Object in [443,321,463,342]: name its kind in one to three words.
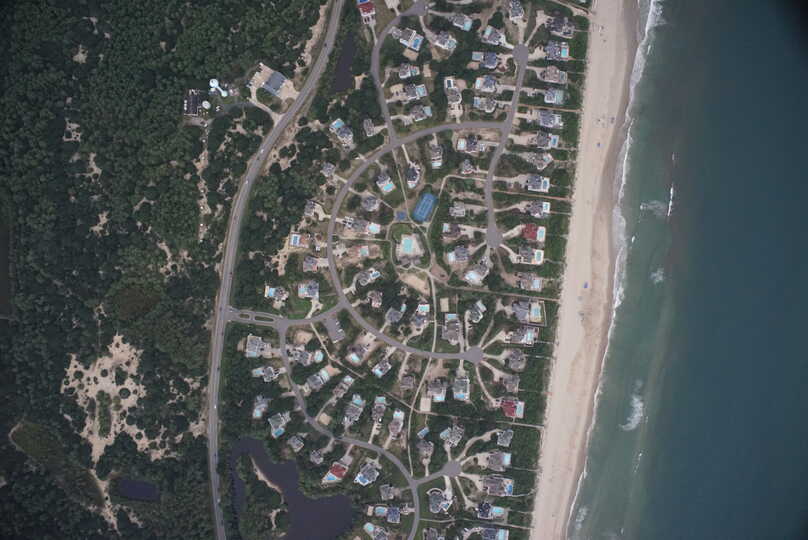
house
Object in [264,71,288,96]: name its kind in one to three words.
building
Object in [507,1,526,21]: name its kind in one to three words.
house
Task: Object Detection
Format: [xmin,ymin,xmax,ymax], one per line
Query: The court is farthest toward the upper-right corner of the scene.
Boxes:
[412,191,439,223]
